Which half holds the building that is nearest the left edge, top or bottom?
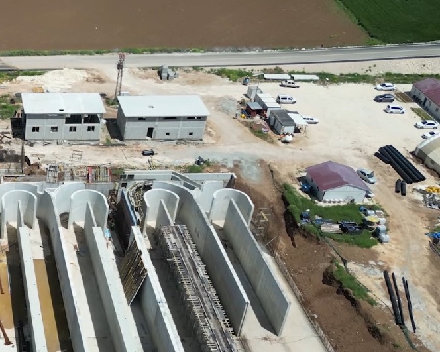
top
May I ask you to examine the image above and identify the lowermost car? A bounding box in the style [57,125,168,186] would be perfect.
[365,184,383,199]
